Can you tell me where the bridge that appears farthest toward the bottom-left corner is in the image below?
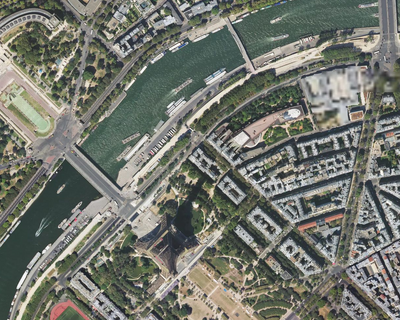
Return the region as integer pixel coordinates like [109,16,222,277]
[63,147,128,204]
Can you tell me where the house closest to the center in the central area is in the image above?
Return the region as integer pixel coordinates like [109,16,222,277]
[188,147,224,181]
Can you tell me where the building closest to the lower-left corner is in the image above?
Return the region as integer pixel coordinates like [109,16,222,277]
[75,270,99,302]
